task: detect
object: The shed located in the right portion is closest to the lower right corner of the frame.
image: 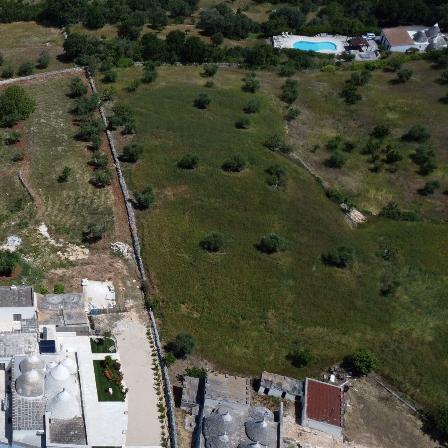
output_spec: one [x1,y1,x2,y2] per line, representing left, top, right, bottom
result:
[301,380,342,441]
